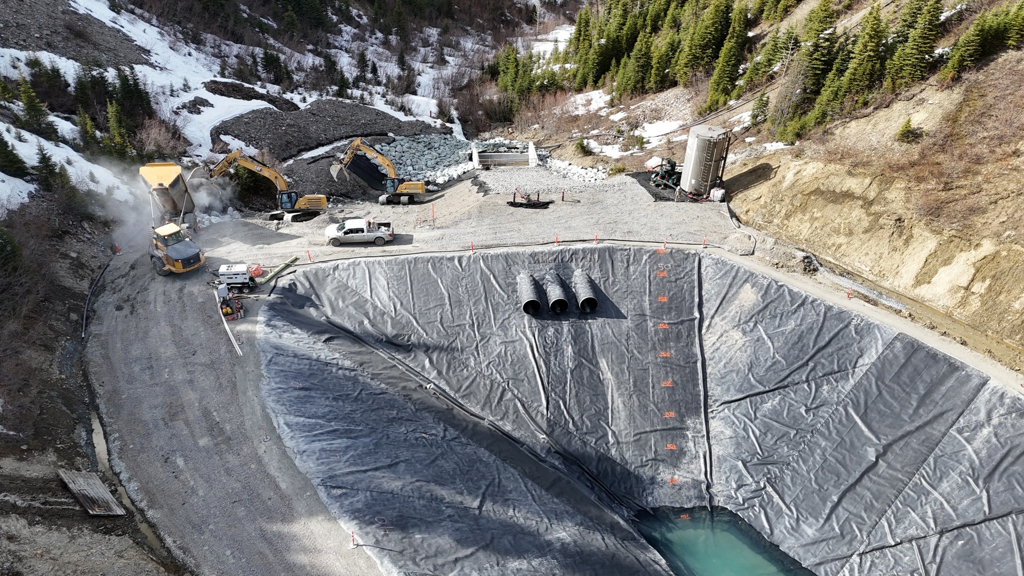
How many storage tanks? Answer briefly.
1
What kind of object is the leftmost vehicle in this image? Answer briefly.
truck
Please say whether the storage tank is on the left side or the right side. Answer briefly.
right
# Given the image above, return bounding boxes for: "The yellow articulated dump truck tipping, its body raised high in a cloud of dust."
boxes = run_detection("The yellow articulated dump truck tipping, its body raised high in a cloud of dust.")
[138,152,206,277]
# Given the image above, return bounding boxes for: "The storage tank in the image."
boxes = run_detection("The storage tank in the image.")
[680,123,734,196]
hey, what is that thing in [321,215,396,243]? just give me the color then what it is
white truck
